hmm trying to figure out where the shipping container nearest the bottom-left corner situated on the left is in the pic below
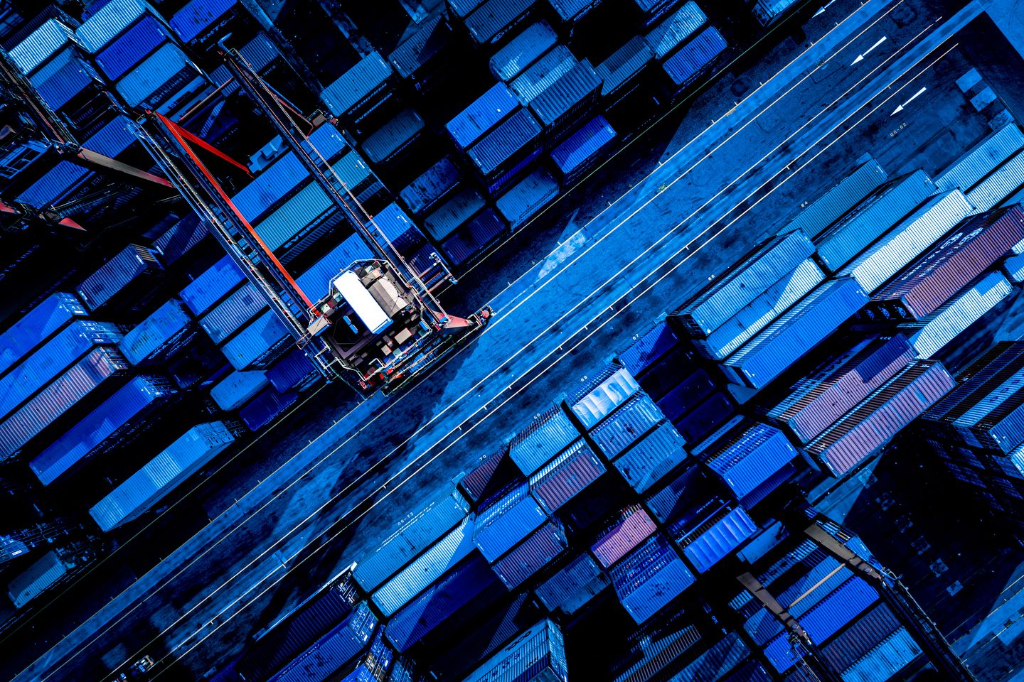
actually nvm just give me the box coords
[4,544,82,609]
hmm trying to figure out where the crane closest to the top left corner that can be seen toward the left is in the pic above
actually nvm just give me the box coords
[0,0,221,253]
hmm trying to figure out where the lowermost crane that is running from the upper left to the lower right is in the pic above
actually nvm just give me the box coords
[677,471,993,682]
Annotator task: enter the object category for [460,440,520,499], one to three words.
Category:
shipping container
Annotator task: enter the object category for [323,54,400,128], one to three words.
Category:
shipping container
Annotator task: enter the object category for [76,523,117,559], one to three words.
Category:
work vehicle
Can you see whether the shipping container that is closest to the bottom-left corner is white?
No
